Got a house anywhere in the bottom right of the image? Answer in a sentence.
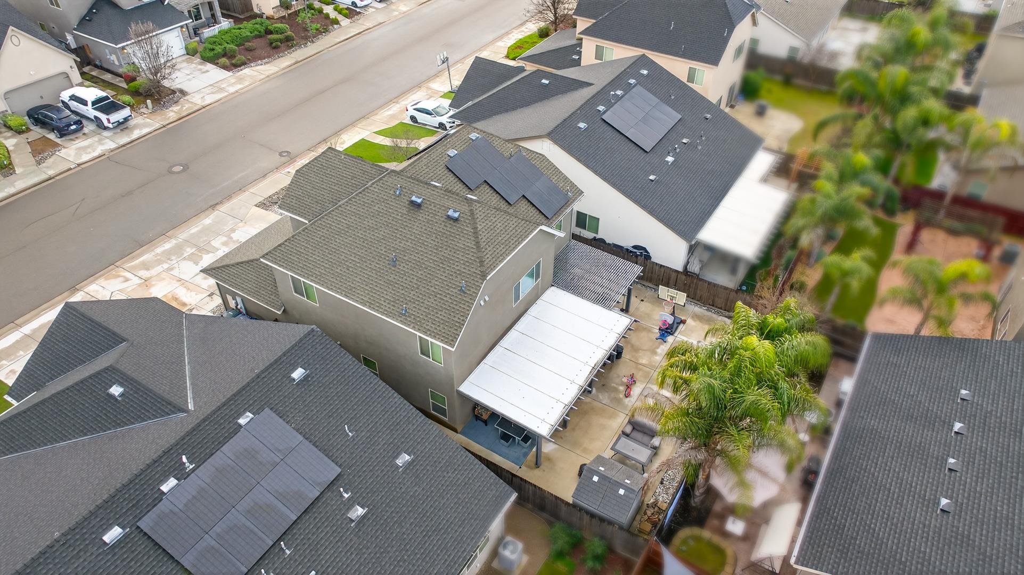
Yes, looking in the bottom right of the image, one can make out a house.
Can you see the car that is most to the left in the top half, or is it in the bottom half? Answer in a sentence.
The top half of the photo is where the car that is most to the left is.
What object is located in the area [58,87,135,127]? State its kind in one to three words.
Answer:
truck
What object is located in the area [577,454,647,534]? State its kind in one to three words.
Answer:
shed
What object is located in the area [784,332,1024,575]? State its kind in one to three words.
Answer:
house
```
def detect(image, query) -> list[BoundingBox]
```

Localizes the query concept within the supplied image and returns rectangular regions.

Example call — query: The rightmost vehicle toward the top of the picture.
[405,99,453,130]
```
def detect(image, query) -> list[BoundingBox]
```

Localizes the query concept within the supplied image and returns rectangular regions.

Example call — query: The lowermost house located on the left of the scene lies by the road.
[0,298,519,575]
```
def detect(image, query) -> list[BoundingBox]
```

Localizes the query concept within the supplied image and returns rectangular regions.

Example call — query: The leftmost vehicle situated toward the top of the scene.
[25,104,82,136]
